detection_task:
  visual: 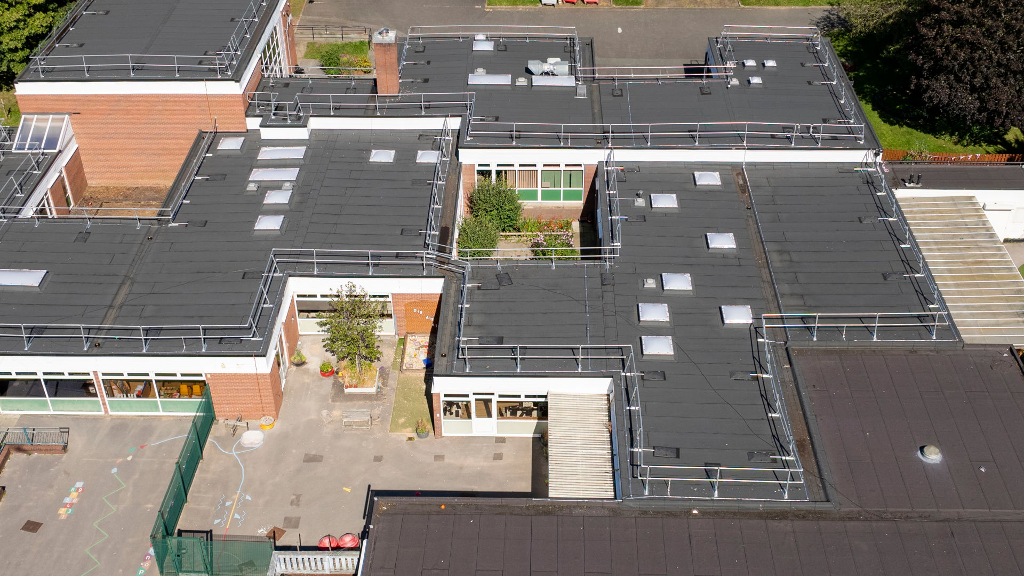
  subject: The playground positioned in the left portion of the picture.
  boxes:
[0,333,562,576]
